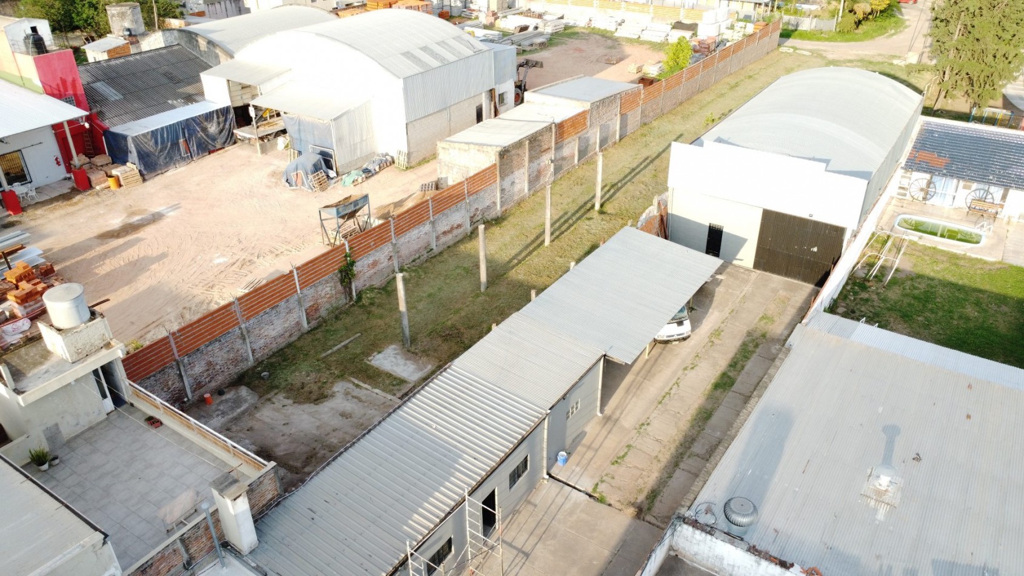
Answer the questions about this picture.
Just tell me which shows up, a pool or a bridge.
pool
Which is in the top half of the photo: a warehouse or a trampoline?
warehouse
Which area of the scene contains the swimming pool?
right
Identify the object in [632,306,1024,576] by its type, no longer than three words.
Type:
building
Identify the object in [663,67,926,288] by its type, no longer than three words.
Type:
warehouse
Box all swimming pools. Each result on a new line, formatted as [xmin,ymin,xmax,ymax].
[890,213,986,243]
